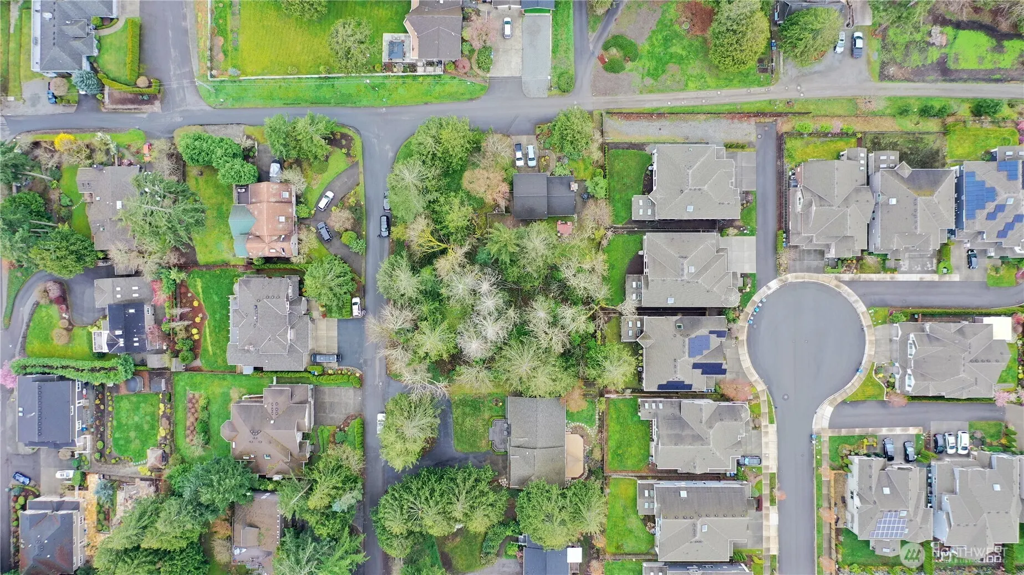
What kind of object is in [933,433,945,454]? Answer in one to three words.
vehicle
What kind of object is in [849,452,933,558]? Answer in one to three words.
house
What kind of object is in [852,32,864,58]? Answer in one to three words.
vehicle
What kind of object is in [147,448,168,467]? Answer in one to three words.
gazebo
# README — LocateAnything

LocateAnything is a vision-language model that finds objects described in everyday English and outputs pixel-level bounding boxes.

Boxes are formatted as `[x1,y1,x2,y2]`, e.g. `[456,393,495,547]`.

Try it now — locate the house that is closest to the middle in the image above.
[513,173,575,220]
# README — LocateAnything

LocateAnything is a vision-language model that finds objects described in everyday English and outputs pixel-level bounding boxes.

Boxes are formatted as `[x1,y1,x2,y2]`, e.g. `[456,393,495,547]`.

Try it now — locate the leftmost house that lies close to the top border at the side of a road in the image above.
[31,0,125,76]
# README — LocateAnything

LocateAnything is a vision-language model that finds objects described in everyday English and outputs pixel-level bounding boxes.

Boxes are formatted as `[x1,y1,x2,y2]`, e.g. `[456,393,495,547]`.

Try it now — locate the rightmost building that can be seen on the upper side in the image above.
[949,146,1024,258]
